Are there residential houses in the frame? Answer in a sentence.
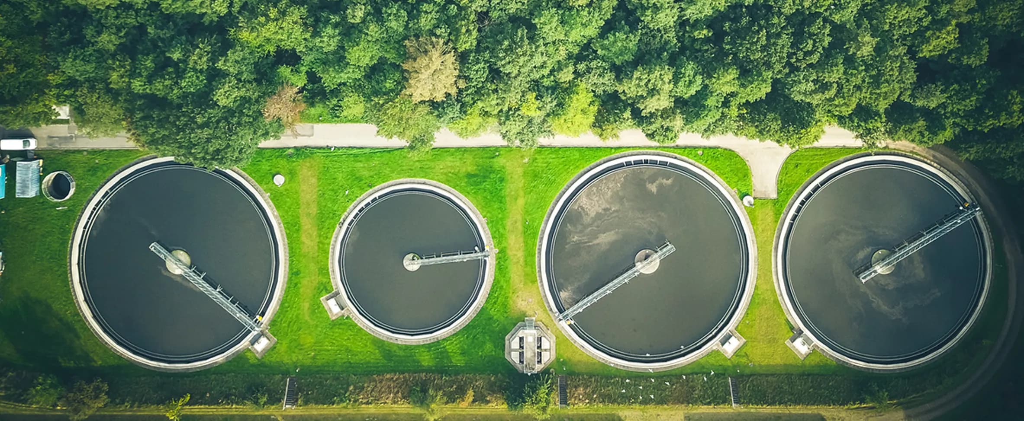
No, there's no residential house here.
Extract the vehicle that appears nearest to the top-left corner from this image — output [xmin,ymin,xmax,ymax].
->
[1,137,40,151]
